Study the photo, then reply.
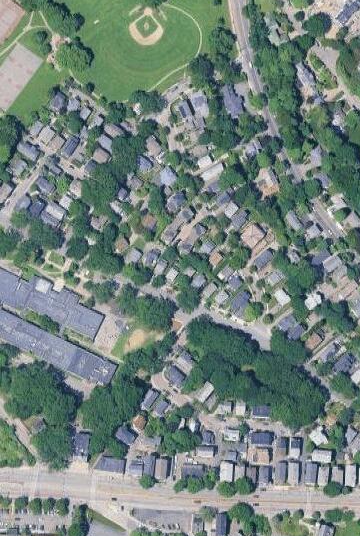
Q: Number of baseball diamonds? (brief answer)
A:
one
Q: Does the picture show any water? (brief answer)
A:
No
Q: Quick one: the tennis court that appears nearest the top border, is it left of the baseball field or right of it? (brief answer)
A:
left of it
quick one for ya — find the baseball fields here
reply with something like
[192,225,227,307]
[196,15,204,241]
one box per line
[96,2,199,95]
